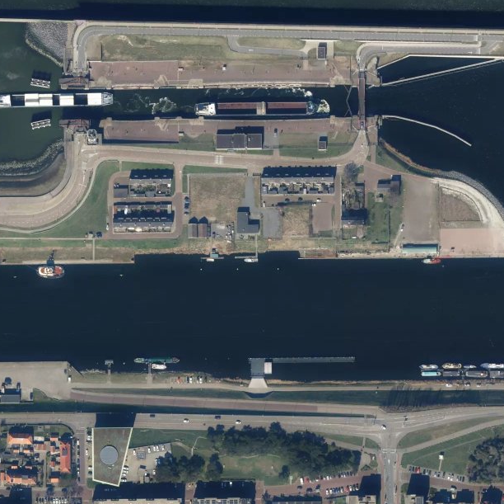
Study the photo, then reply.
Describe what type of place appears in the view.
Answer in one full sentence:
The area seen from above is a port.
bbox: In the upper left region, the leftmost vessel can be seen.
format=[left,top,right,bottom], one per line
[0,93,113,107]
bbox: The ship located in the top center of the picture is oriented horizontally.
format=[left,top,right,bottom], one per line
[196,102,316,114]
